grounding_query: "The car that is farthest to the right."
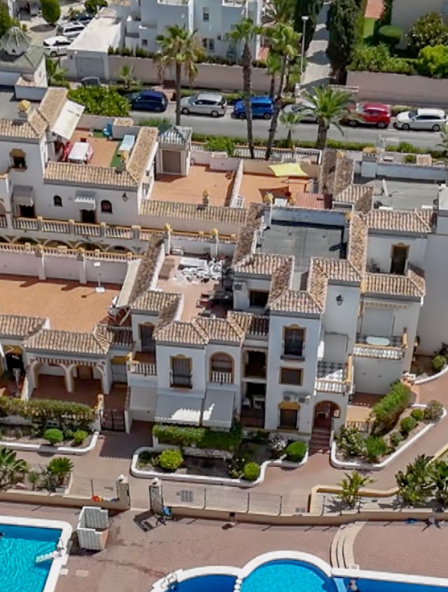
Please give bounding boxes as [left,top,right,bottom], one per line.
[396,107,448,131]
